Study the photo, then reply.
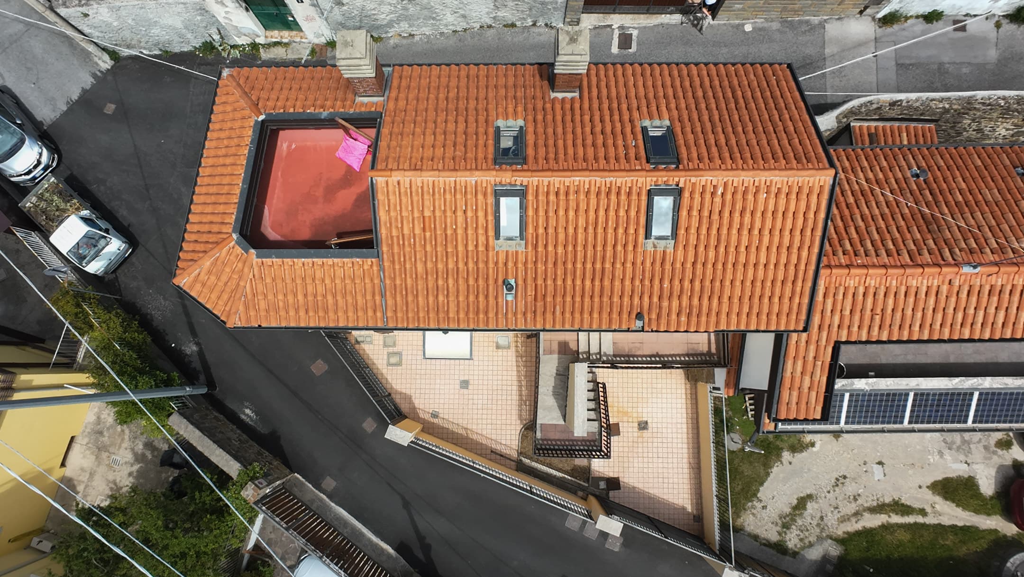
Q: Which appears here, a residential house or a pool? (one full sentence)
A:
Looking from above, you can make out a residential house.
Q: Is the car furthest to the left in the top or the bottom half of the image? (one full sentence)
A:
Seen from above, the car furthest to the left lies in the top half of the view.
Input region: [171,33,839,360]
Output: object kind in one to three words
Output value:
house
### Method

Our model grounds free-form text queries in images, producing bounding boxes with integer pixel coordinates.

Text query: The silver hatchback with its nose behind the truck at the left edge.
[0,79,62,181]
